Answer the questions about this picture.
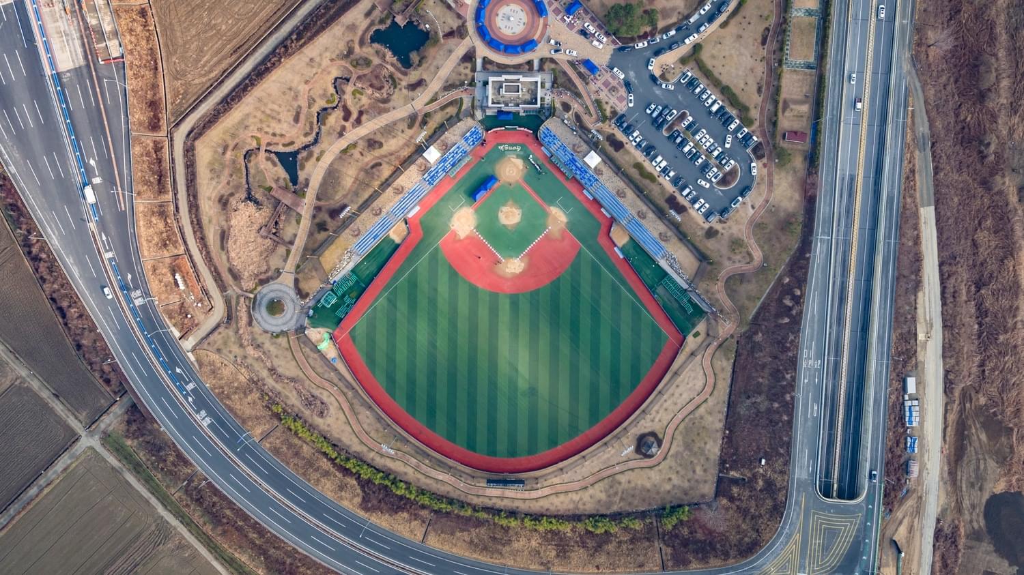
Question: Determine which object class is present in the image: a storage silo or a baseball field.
baseball field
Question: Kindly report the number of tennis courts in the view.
zero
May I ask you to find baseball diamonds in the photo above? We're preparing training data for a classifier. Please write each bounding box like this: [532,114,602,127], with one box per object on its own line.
[333,128,684,473]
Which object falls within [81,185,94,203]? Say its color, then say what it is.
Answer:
white vehicle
